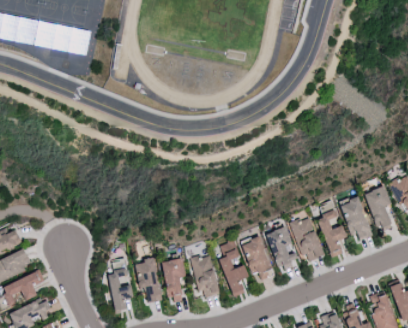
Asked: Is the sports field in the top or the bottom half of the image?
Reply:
top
